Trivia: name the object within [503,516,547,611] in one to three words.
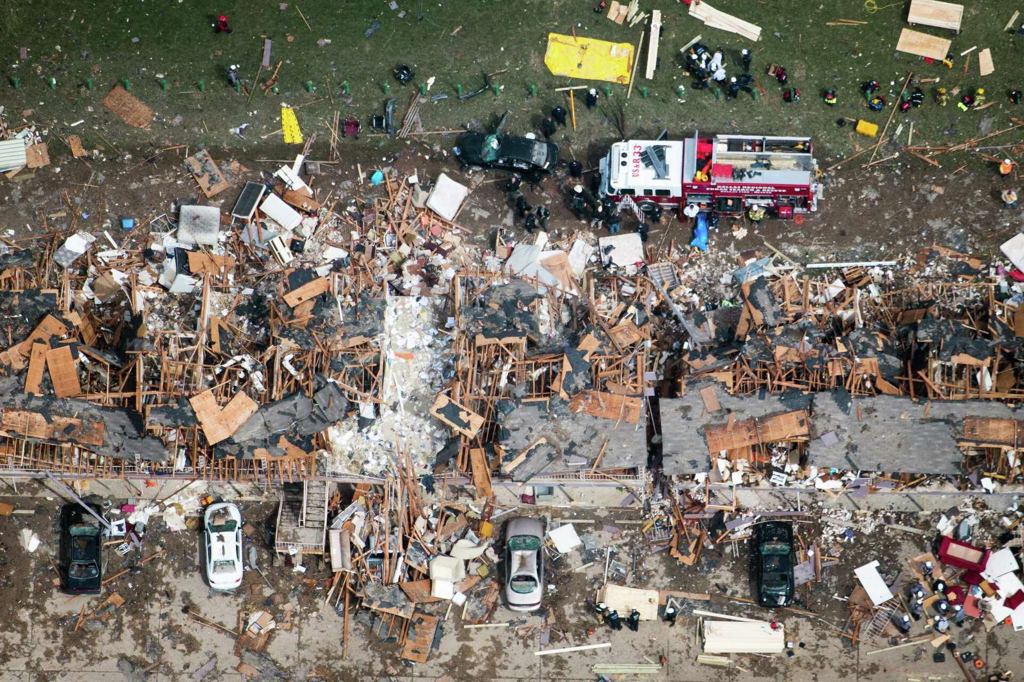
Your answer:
car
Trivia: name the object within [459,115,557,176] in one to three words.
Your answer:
car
